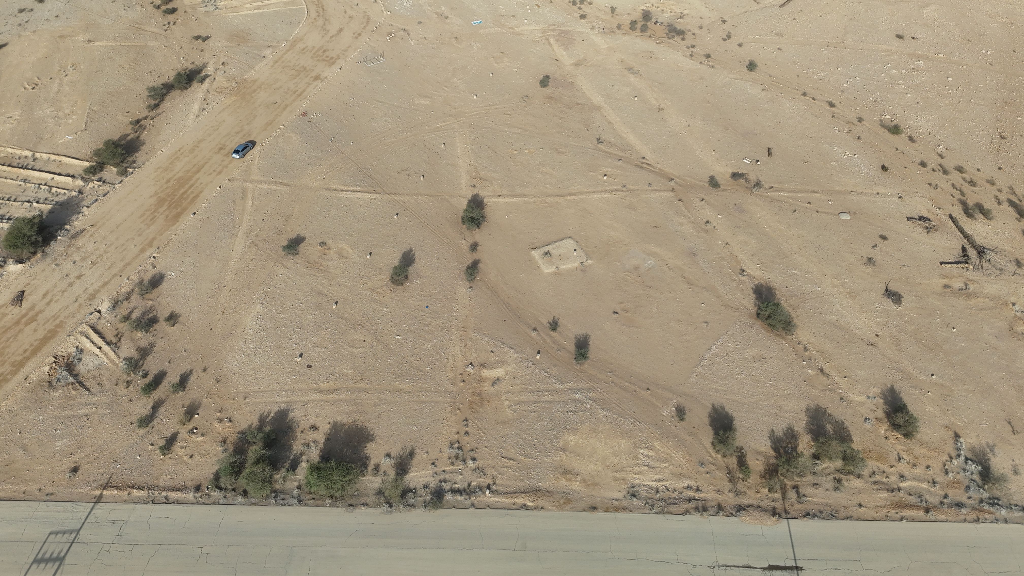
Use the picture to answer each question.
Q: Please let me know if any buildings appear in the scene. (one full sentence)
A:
No, no building is visible in the scene.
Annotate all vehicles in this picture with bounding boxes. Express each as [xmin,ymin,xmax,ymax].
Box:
[231,143,253,159]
